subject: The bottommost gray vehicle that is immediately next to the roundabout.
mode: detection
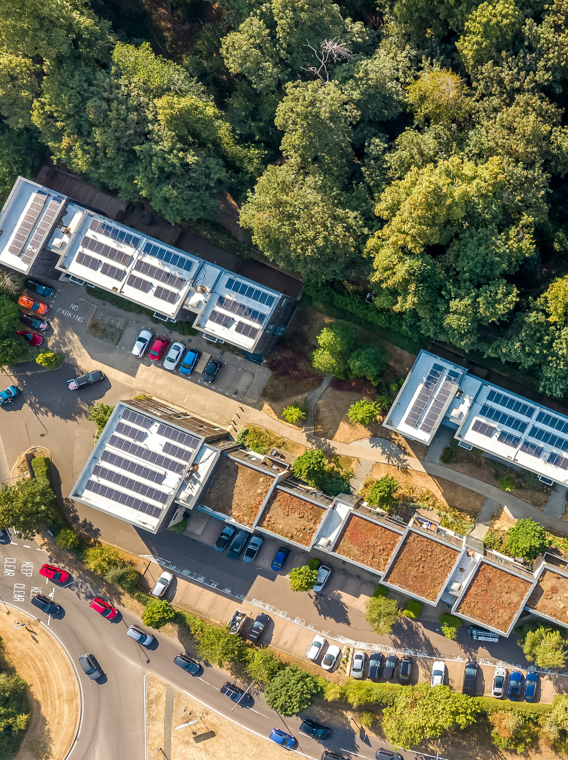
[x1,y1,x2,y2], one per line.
[76,650,104,683]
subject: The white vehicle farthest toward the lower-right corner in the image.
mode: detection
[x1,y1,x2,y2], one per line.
[492,665,507,696]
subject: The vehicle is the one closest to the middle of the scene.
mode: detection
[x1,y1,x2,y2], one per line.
[202,357,223,385]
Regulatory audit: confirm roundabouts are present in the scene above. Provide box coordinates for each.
[0,607,77,760]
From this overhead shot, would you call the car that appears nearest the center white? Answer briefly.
No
